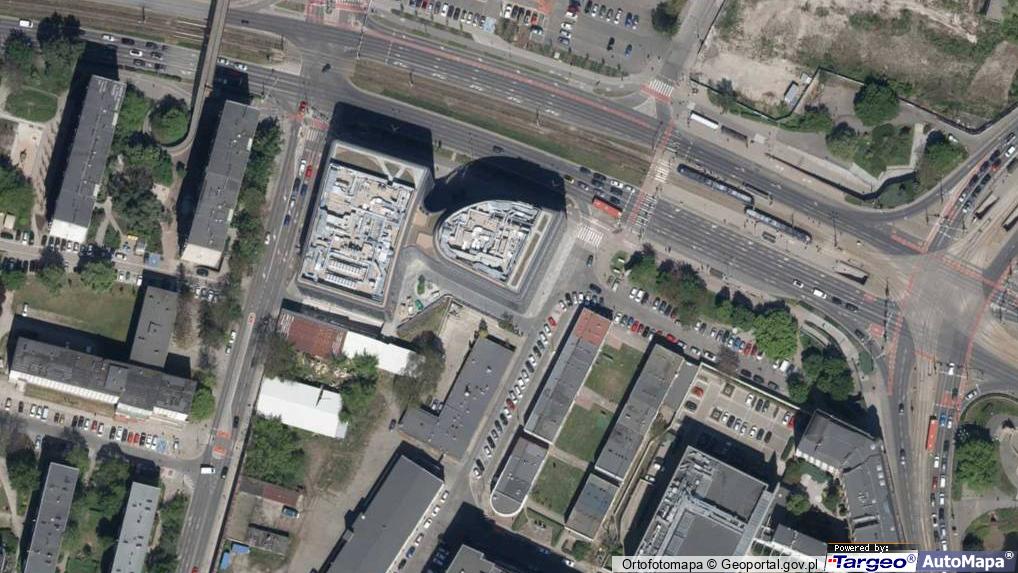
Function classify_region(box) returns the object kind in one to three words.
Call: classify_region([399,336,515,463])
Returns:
building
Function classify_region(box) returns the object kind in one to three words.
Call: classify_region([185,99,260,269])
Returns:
building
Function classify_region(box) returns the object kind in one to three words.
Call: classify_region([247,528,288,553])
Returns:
shed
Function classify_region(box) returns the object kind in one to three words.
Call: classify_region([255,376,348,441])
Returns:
shed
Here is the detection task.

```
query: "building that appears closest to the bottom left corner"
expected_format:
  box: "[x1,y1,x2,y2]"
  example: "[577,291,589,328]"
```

[24,463,80,573]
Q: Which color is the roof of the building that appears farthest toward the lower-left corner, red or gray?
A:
gray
